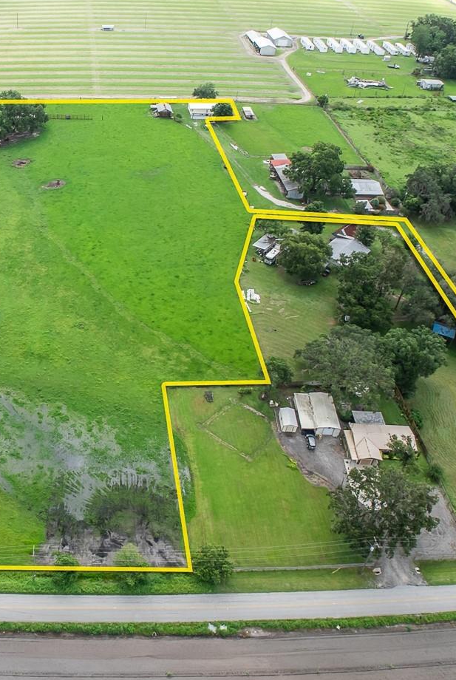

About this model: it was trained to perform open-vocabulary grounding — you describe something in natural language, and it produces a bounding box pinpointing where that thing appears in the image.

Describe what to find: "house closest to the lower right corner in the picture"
[336,424,419,466]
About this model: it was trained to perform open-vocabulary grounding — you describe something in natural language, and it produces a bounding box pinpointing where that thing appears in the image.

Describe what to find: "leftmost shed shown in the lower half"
[274,406,298,433]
